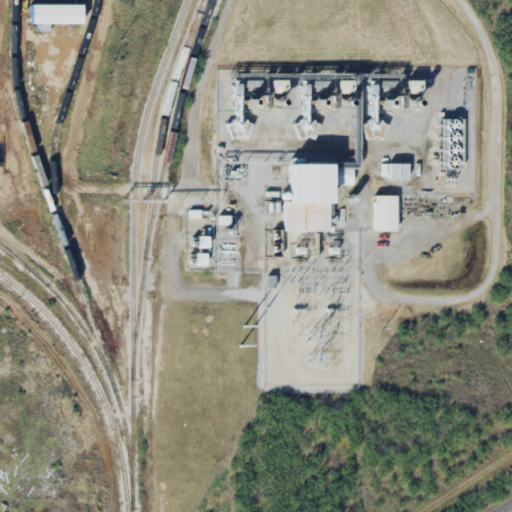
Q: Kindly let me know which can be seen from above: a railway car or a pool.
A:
railway car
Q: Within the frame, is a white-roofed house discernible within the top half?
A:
Yes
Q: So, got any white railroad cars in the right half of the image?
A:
No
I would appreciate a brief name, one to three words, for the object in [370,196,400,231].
building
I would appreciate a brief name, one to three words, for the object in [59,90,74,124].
rail car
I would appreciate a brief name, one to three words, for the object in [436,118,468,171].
cooling tower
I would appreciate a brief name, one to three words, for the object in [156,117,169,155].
rail car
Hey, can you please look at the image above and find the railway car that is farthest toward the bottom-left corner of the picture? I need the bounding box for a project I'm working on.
[63,248,81,281]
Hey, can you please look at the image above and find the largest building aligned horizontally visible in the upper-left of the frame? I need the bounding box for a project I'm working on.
[31,4,86,26]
